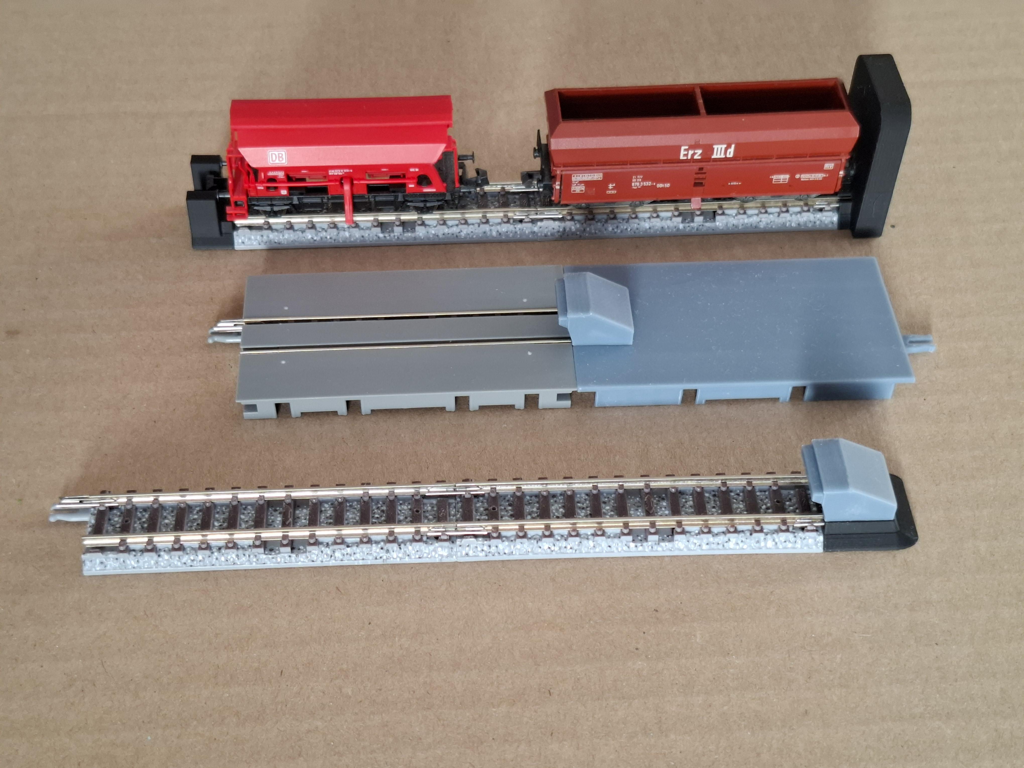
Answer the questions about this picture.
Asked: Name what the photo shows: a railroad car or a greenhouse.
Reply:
railroad car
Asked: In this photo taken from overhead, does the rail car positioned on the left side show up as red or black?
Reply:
red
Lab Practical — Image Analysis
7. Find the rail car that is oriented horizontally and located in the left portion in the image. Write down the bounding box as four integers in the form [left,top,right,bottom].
[207,92,485,225]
